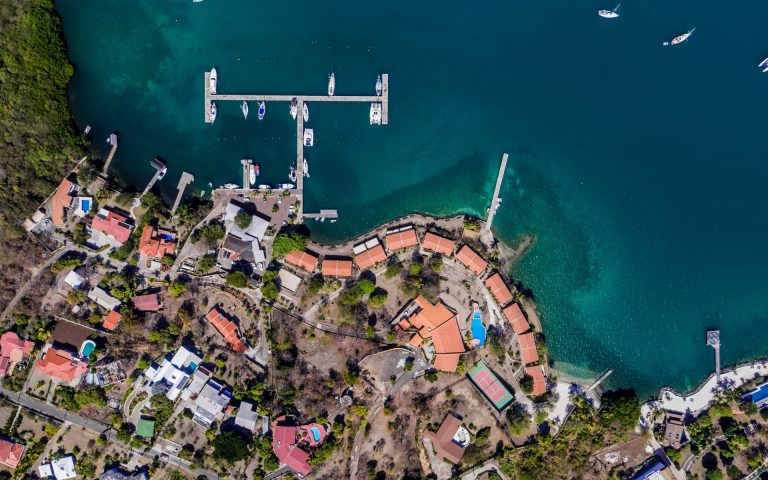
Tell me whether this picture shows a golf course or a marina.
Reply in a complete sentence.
This looks like a marina.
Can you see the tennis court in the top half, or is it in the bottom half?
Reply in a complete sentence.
The tennis court sits in the bottom half of the picture.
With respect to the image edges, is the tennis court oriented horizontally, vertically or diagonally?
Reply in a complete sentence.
I'd say the tennis court is aligned diagonally in the picture.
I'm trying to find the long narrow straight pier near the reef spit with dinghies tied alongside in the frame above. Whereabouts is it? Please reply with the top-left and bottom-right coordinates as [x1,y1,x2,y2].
[486,153,508,230]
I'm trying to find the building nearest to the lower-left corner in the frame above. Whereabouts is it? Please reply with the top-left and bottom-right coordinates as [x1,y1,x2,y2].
[0,435,28,468]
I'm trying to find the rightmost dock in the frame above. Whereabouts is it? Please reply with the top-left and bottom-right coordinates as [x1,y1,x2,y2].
[705,331,720,374]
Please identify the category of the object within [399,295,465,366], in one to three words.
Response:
building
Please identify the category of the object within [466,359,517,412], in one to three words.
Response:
tennis court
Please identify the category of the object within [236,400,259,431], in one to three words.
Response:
house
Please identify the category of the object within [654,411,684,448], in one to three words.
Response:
house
